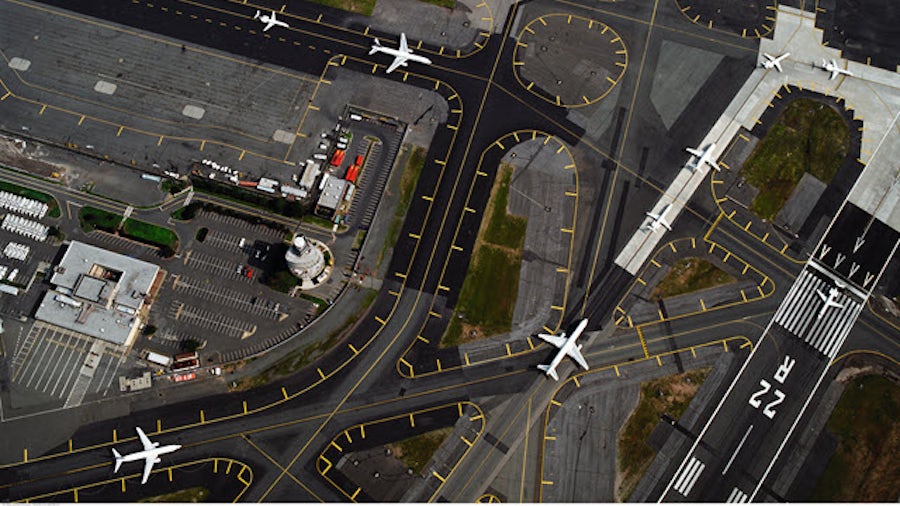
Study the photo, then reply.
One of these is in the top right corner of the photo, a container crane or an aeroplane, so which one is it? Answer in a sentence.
The one visible in the top right corner of the photo is an aeroplane.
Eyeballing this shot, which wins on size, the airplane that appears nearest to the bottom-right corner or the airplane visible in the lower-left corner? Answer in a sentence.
The airplane visible in the lower-left corner is larger than the airplane that appears nearest to the bottom-right corner.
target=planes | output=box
[824,60,852,78]
[689,144,725,170]
[110,425,183,485]
[647,205,673,233]
[538,320,588,380]
[368,33,432,73]
[762,51,789,71]
[815,285,843,317]
[255,9,289,31]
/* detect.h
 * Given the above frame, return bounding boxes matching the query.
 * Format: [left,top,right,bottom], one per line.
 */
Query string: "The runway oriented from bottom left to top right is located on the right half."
[657,114,900,506]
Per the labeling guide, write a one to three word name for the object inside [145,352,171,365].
vehicle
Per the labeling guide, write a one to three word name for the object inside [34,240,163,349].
building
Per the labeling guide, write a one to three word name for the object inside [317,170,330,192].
vehicle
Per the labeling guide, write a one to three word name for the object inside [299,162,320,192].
shed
